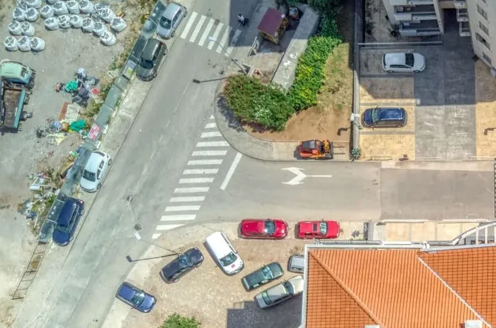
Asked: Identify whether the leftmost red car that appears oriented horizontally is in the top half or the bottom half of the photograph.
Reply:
bottom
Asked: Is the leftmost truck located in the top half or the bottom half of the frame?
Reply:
top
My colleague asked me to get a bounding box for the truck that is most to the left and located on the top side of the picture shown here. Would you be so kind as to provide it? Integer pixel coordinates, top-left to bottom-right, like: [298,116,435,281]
[0,67,36,131]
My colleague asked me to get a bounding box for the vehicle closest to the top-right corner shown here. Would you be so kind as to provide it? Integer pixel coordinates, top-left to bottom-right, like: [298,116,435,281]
[383,50,425,74]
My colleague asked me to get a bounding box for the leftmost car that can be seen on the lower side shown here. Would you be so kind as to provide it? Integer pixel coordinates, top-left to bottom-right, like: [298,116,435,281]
[53,200,88,245]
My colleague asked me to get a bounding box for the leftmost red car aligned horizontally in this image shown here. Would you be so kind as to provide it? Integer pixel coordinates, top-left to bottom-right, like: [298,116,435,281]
[240,217,289,239]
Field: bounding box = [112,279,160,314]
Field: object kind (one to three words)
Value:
car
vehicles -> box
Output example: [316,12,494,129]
[202,230,243,276]
[297,138,337,158]
[0,67,36,131]
[254,275,302,311]
[363,105,407,127]
[285,252,303,272]
[240,217,289,239]
[157,3,190,38]
[297,219,341,239]
[112,279,160,314]
[53,200,88,245]
[81,151,113,190]
[383,50,425,74]
[157,245,207,285]
[135,39,169,80]
[239,263,286,293]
